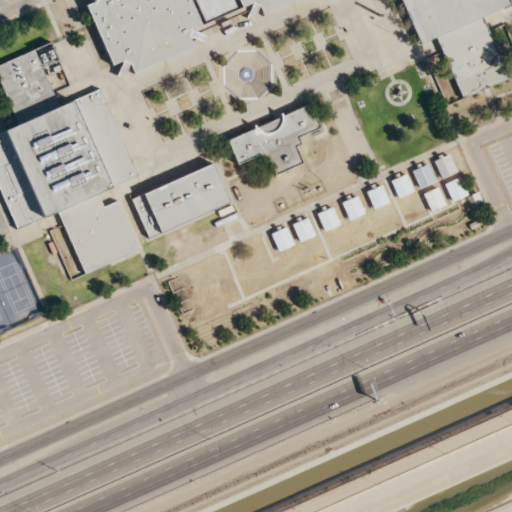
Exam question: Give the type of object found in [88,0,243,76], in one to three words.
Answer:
building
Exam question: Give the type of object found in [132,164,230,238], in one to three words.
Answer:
building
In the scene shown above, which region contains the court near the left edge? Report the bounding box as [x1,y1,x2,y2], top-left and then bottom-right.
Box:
[0,251,38,328]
